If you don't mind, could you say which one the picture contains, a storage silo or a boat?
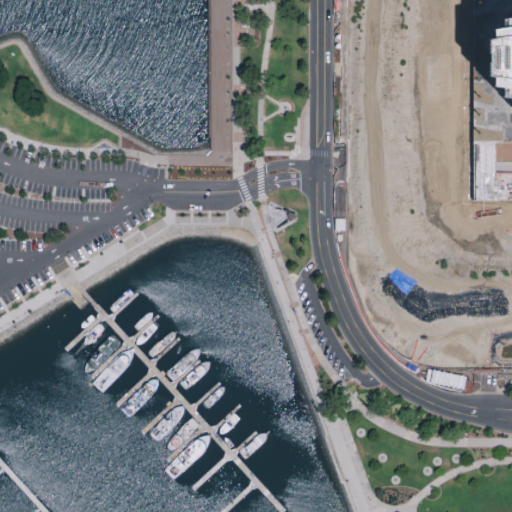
boat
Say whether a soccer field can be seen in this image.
No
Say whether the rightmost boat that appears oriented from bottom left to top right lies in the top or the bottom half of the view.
bottom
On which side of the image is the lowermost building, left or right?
right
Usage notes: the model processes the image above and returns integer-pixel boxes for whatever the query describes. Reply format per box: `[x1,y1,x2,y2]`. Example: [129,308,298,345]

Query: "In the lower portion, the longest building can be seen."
[426,370,469,392]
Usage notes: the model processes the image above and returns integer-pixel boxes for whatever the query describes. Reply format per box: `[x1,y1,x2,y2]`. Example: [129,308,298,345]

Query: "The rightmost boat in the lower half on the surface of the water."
[239,431,268,459]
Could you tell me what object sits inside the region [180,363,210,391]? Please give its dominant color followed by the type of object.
white boat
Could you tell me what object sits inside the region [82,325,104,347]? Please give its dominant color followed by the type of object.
white boat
